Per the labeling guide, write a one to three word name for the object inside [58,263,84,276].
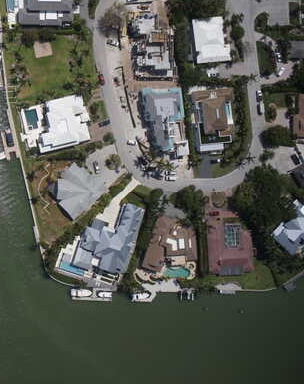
swimming pool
